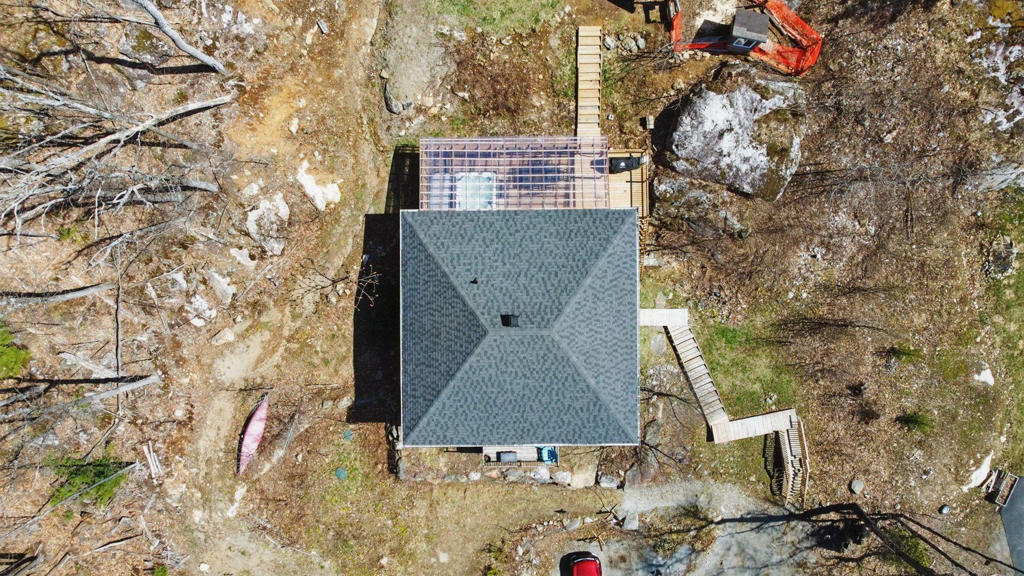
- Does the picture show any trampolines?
No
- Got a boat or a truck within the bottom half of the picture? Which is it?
boat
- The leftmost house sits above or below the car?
above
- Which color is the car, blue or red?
red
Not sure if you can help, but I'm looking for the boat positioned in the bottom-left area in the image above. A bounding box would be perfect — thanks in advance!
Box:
[235,395,267,476]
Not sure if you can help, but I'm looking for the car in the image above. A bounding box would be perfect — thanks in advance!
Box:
[569,551,601,576]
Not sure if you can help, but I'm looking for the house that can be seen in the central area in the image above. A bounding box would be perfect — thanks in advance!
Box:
[401,208,639,446]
